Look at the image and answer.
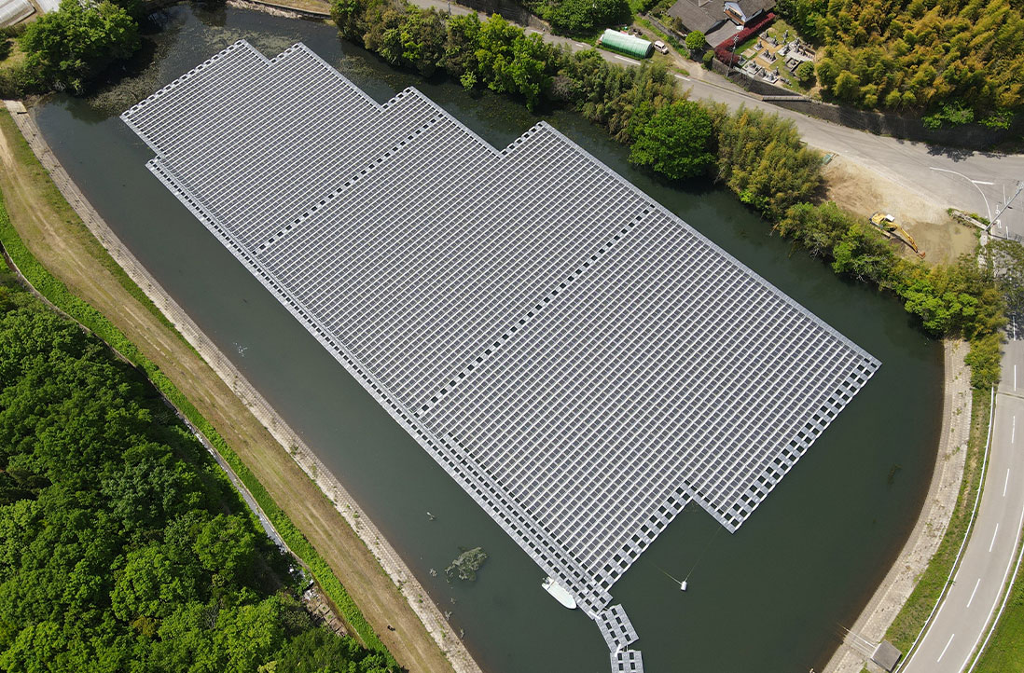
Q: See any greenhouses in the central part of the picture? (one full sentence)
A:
No, the scene shows no greenhouse in the central part of the picture.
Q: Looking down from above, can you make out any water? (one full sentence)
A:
Yes, there's water in this view.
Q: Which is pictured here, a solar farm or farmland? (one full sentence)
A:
This image shows a solar farm.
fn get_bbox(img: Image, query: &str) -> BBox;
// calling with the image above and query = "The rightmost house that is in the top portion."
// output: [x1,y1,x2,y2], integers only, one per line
[667,0,776,52]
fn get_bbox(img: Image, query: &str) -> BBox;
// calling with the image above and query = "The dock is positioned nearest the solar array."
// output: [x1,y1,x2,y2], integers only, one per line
[595,604,637,652]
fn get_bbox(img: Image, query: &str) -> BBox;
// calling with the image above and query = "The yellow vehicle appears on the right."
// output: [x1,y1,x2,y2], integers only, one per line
[869,212,931,258]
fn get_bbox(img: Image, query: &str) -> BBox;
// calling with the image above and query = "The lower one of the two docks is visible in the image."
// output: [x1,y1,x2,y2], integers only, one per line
[610,652,643,673]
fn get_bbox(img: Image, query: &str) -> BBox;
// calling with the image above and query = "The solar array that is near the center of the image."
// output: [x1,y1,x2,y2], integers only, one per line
[119,38,883,621]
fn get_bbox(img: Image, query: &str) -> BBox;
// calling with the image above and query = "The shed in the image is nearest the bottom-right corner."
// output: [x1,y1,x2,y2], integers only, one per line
[865,639,902,672]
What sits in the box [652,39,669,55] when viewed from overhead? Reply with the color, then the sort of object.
white car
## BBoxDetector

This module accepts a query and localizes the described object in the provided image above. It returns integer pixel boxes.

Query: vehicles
[869,212,931,258]
[652,39,669,55]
